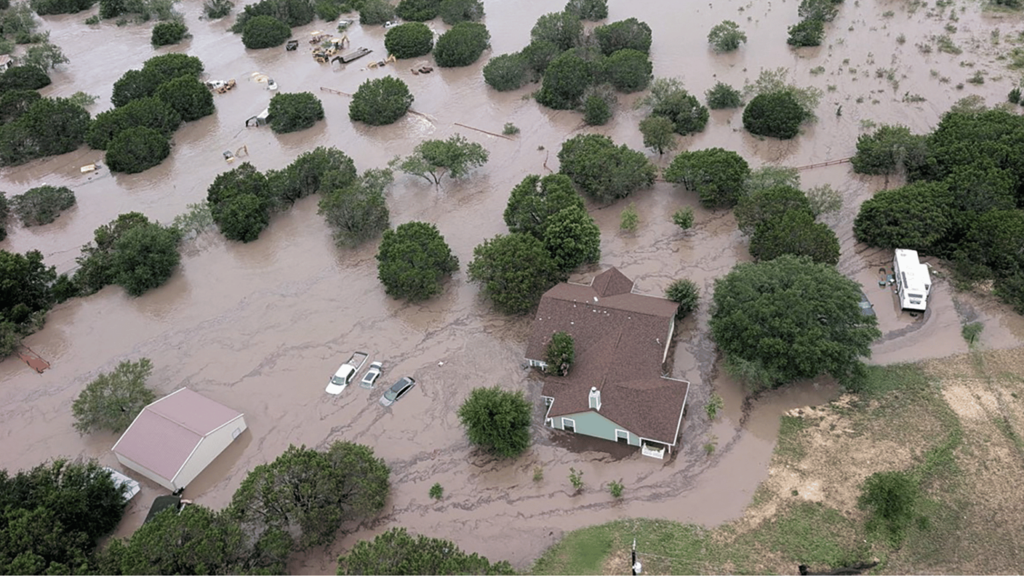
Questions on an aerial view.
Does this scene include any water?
Yes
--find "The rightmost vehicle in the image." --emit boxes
[893,251,934,314]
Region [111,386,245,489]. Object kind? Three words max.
barn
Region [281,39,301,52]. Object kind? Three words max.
vehicle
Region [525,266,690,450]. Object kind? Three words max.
house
